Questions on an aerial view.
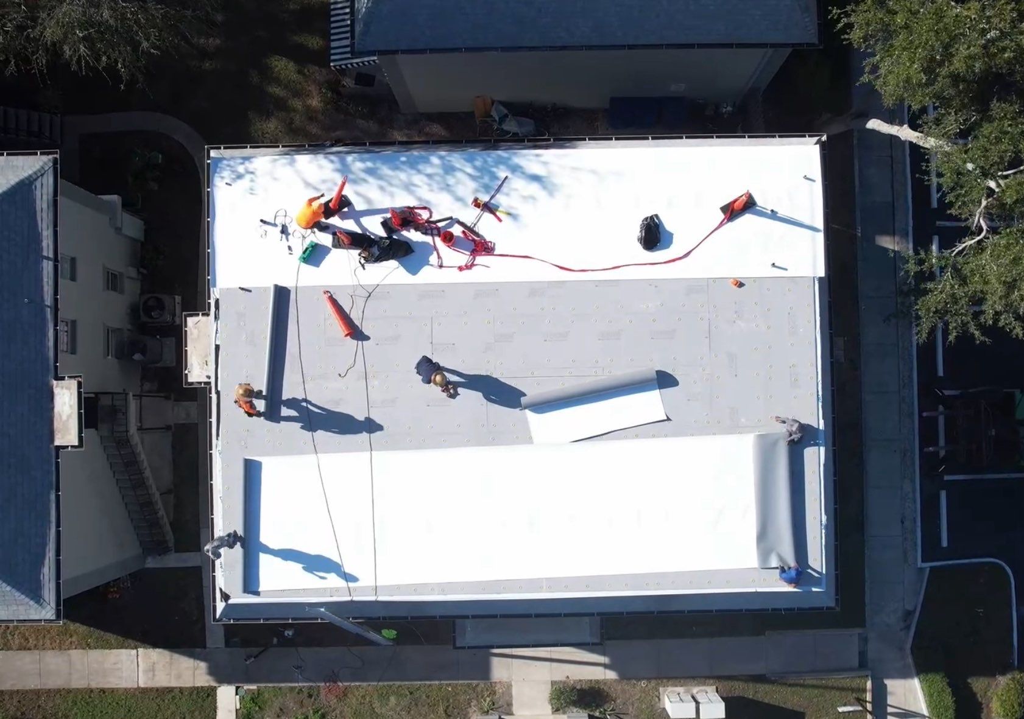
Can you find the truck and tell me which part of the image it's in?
right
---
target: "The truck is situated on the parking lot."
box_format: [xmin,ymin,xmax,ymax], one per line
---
[922,389,1024,474]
